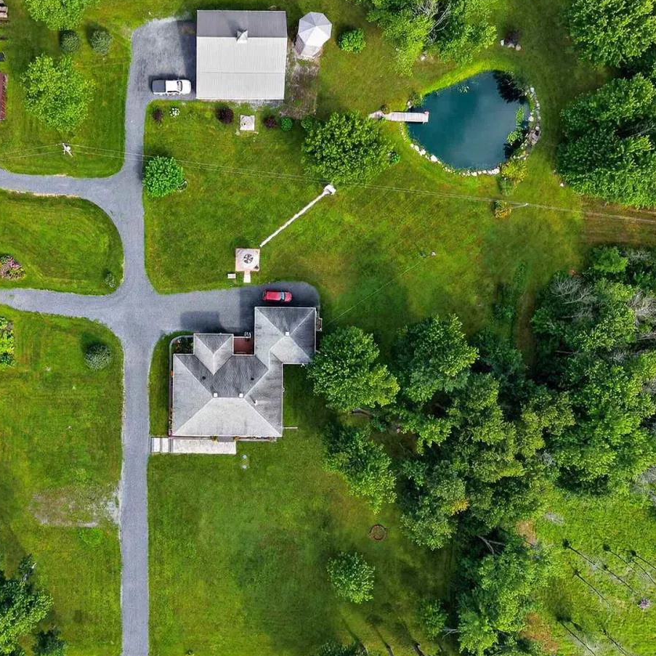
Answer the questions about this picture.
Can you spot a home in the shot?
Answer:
Yes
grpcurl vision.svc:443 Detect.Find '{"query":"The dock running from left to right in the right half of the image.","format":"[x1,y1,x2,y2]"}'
[371,111,429,124]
